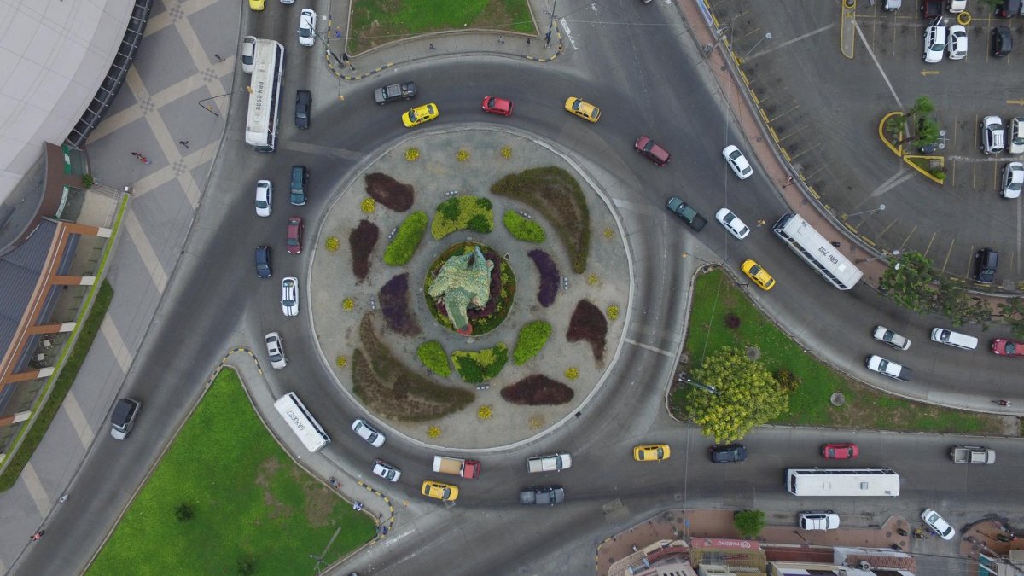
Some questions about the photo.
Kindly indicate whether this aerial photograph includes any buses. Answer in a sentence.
Yes, there is a bus in the image.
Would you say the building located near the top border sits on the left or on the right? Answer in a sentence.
It is on the left.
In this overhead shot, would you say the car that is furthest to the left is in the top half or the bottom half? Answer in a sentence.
Seen from above, the car that is furthest to the left lies in the bottom half of the view.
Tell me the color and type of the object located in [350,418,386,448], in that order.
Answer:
white car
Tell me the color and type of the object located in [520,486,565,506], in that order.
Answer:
gray vehicle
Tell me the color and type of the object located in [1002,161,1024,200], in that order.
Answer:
white car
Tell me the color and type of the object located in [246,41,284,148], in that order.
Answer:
white bus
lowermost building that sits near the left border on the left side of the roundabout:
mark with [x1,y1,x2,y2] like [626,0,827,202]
[0,221,113,430]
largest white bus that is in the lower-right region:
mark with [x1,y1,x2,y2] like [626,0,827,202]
[780,467,895,496]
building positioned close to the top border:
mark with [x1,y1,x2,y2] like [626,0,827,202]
[0,0,166,209]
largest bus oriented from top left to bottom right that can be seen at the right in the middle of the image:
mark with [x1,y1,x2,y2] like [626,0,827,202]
[766,208,861,289]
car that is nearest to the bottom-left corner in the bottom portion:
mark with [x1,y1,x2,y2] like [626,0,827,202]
[110,395,142,442]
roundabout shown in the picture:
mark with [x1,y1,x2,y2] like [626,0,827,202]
[309,126,634,451]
